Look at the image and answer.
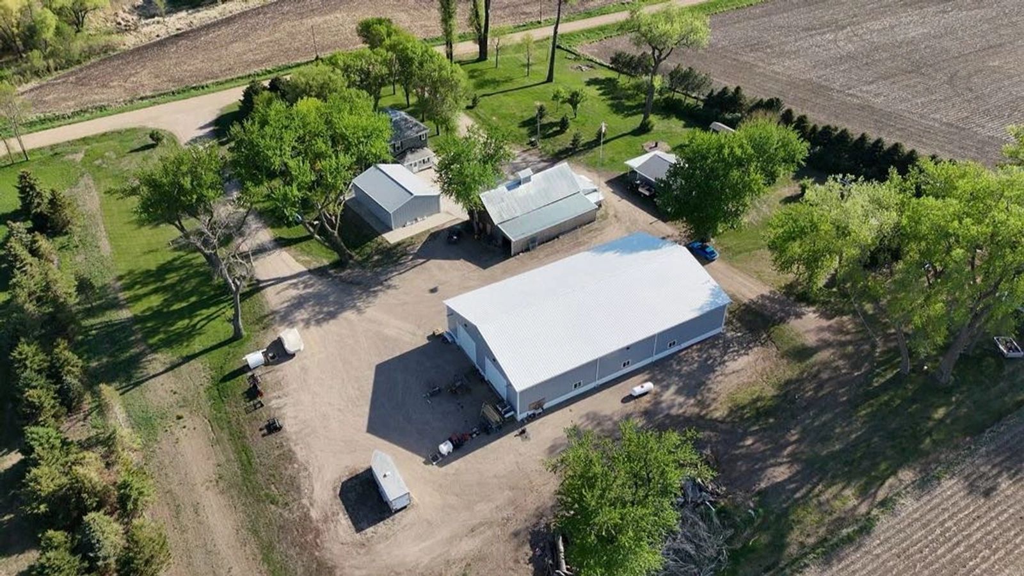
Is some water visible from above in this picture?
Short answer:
No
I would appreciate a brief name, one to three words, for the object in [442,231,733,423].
shed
